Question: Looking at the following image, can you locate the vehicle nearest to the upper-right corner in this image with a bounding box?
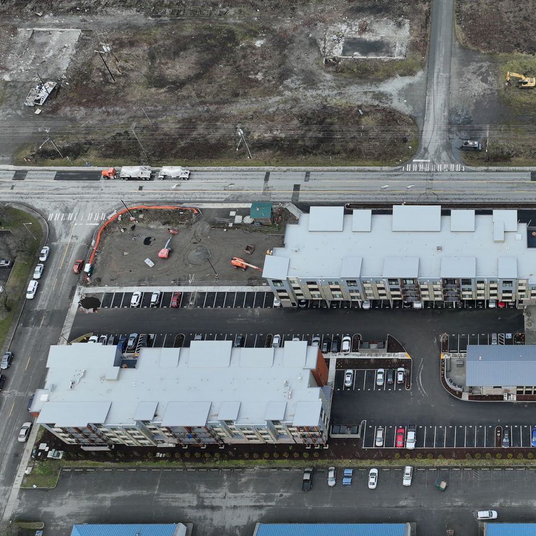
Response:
[500,70,536,87]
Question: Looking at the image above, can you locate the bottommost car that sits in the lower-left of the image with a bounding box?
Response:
[17,423,32,442]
